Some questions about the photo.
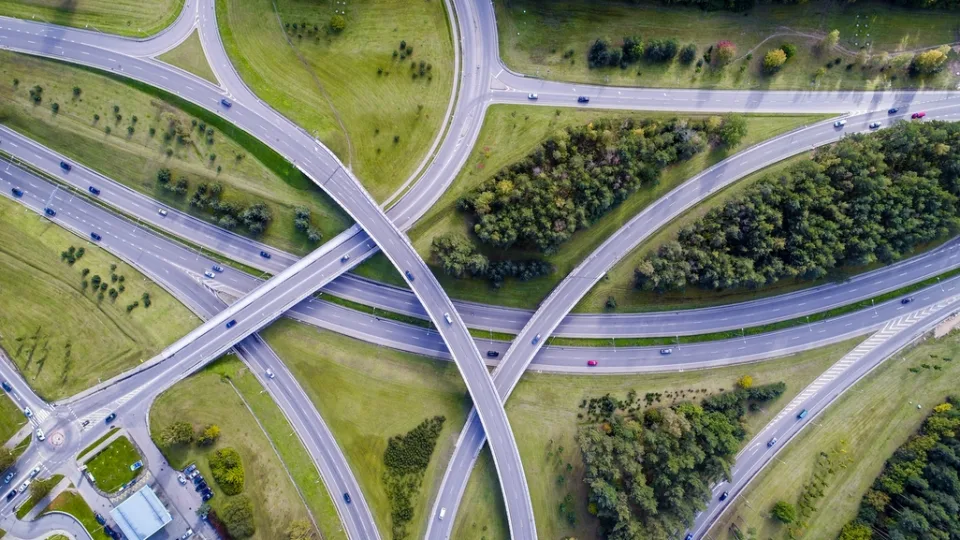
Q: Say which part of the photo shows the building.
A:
bottom left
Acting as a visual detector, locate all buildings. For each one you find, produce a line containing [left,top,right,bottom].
[110,483,174,540]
